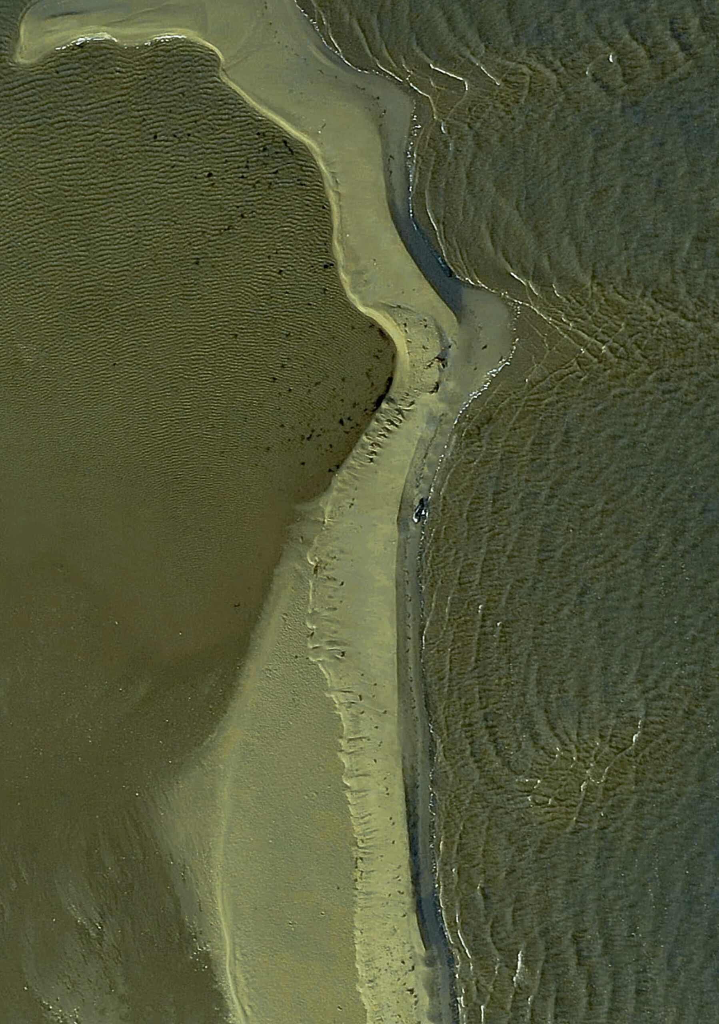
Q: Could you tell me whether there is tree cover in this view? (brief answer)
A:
No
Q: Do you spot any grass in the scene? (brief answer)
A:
No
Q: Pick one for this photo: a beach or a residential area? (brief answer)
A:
beach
